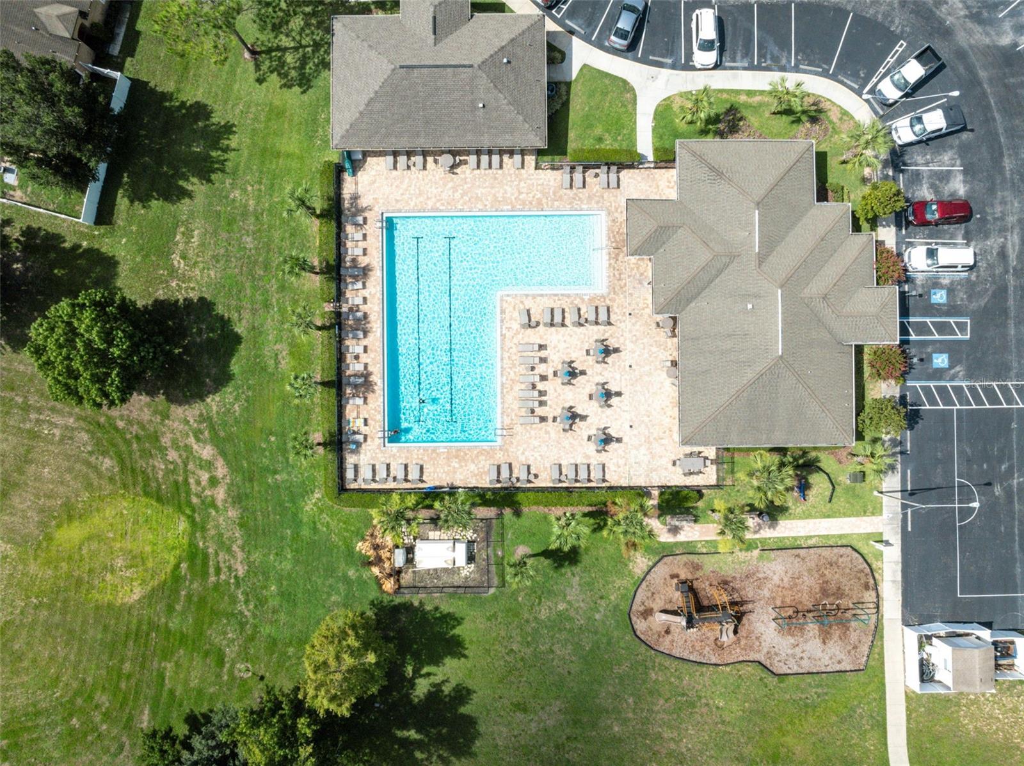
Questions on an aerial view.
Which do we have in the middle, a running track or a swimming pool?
swimming pool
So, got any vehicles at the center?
No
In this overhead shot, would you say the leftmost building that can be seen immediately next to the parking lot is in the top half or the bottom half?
top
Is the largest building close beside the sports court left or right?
right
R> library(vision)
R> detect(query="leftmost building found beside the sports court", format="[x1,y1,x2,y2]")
[625,139,900,447]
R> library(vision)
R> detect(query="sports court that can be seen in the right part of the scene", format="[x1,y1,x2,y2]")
[954,409,1024,625]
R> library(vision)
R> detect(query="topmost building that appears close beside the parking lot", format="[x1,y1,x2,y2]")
[330,0,547,152]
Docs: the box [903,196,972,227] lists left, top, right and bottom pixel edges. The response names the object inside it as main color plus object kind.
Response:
red car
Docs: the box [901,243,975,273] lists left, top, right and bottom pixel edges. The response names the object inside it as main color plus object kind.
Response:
white car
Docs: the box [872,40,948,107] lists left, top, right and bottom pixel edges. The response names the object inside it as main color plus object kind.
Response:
white truck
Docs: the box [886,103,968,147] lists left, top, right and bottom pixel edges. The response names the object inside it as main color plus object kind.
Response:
white truck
